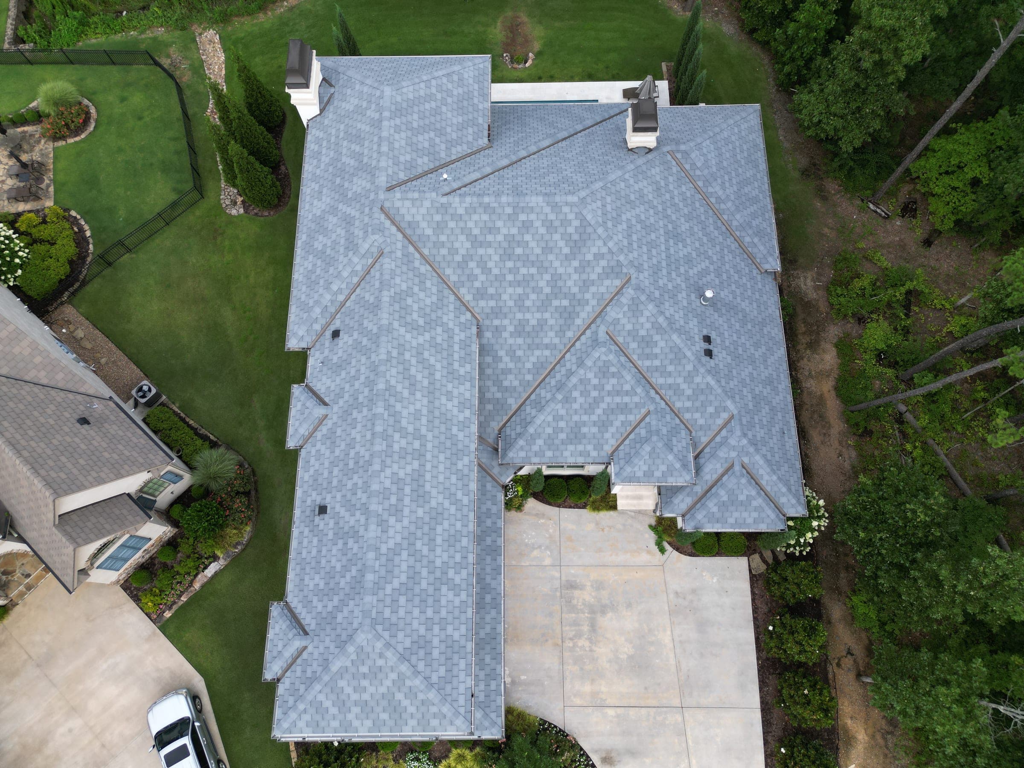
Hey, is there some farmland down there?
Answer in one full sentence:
No, no farmland is visible.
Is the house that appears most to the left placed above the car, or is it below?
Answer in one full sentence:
The house that appears most to the left is above the car.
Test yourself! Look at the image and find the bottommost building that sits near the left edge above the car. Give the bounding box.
[0,274,190,597]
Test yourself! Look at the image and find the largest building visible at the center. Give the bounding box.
[261,39,808,742]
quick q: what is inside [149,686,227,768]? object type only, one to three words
car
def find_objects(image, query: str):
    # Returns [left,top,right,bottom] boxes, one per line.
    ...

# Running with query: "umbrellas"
[643,74,659,98]
[1,147,46,186]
